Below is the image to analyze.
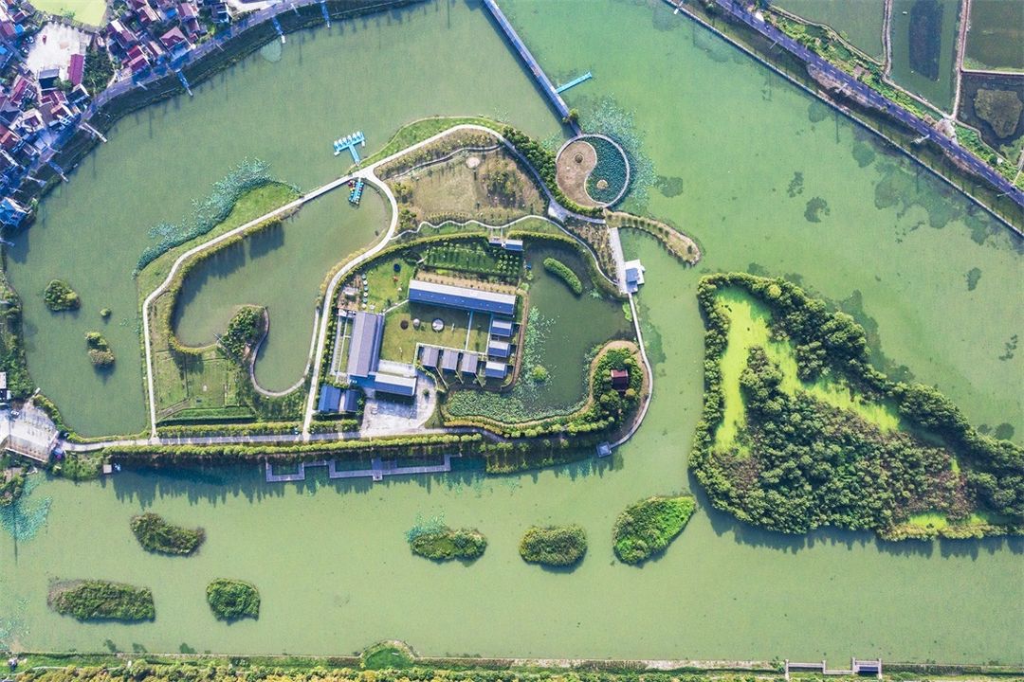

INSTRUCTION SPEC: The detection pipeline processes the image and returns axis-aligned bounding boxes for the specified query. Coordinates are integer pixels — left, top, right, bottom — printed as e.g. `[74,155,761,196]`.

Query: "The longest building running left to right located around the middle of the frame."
[409,281,516,317]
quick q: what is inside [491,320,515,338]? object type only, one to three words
house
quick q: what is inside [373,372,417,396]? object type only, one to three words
building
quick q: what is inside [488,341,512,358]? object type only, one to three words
house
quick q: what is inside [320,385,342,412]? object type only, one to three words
building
